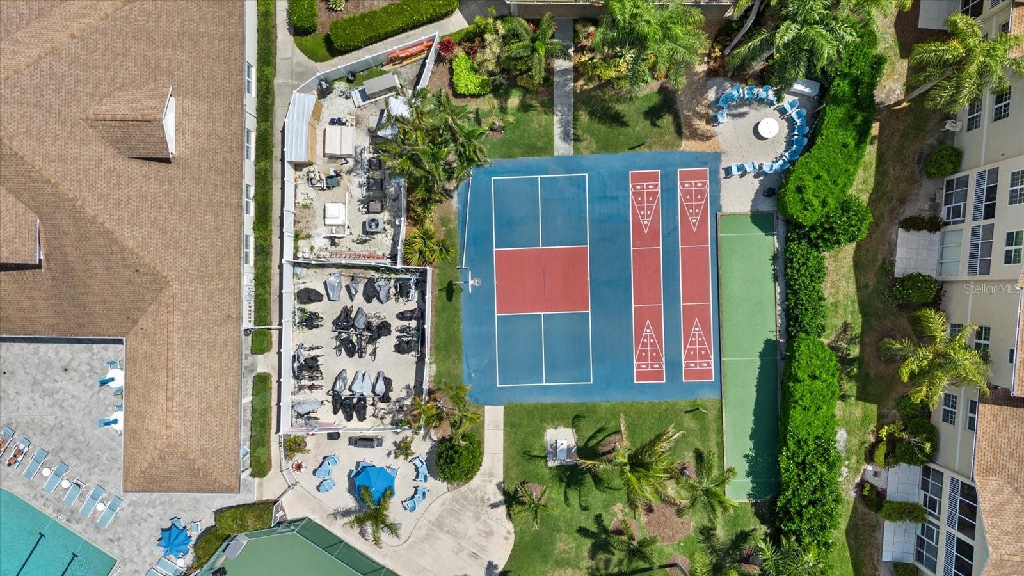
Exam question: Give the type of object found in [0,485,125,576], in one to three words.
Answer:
swimming pool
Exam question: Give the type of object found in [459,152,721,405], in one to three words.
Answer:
sports court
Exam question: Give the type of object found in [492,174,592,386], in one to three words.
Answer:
sports court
